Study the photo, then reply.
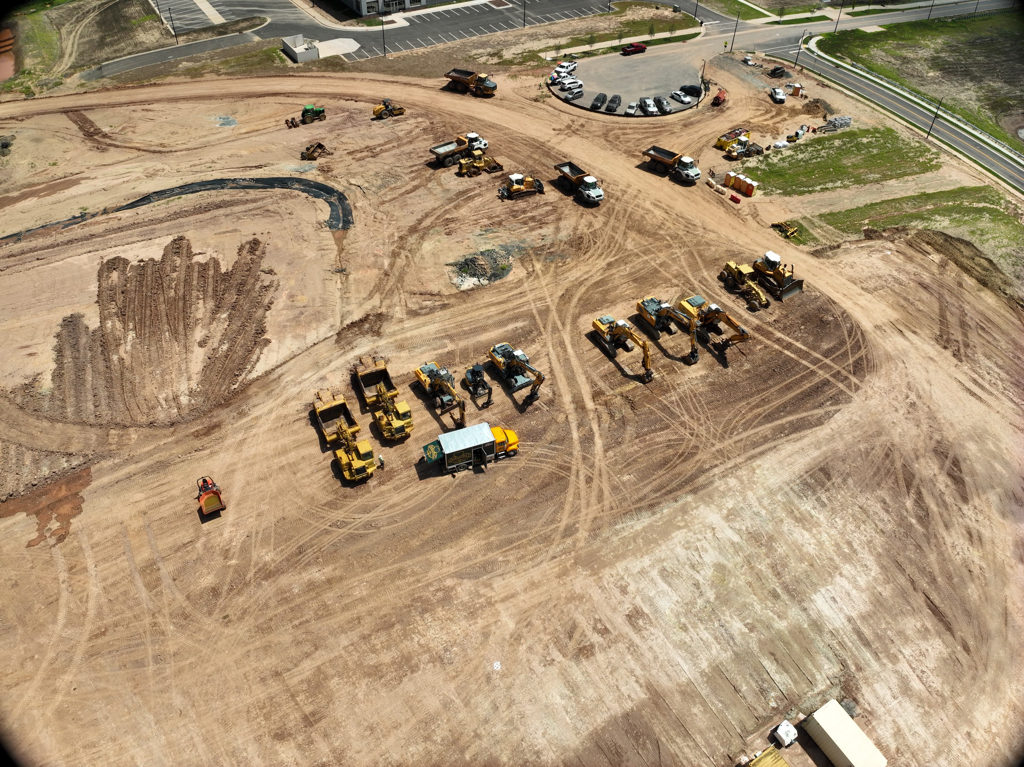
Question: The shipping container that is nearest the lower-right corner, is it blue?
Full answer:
No, the shipping container that is nearest the lower-right corner is white.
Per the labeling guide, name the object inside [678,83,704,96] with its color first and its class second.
black vehicle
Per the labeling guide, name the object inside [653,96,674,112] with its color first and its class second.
gray vehicle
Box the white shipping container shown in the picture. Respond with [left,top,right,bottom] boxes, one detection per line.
[804,697,894,767]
